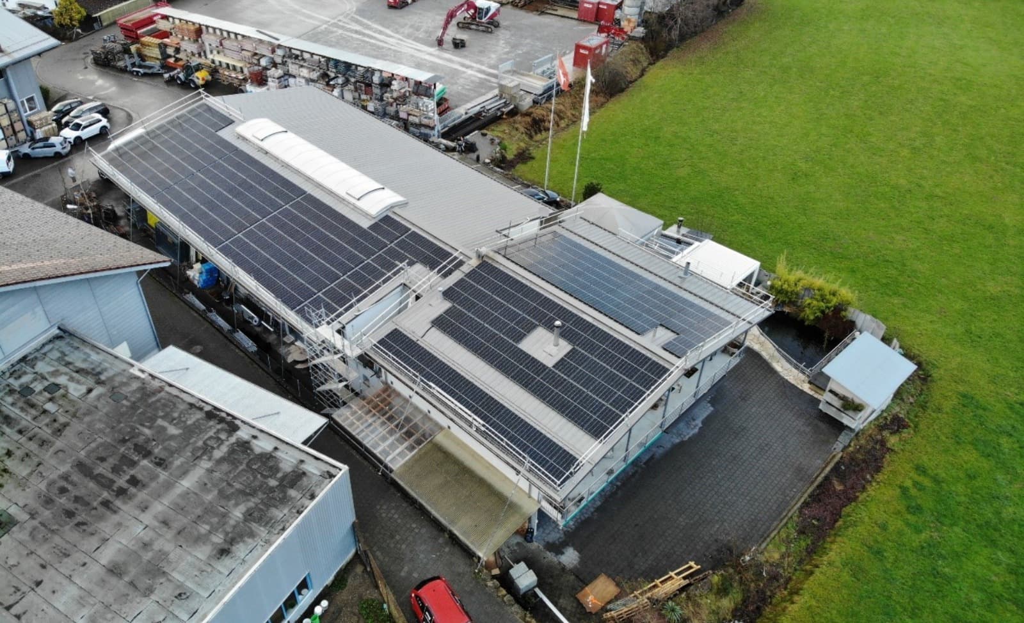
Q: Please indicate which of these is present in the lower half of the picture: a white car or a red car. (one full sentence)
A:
The one visible in the lower half of the picture is a red car.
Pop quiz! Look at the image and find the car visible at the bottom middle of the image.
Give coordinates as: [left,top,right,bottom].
[414,579,474,623]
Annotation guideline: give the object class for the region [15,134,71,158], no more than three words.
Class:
car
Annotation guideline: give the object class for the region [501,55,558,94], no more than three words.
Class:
trailer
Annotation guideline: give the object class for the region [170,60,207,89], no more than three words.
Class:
work vehicle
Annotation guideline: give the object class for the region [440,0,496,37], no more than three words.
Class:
work vehicle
